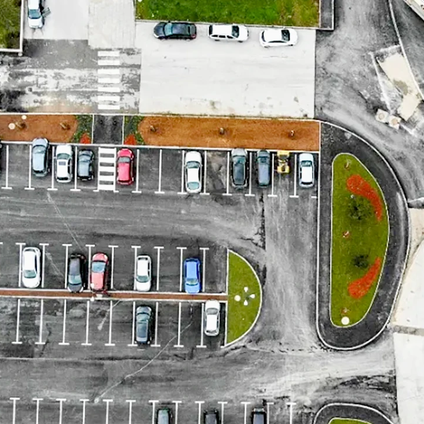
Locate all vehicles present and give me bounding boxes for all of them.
[183,150,203,194]
[75,148,94,183]
[133,304,153,346]
[88,252,110,293]
[29,137,50,178]
[258,27,298,48]
[64,252,85,294]
[18,245,42,288]
[182,256,201,295]
[206,22,249,43]
[156,407,174,424]
[24,0,51,31]
[53,144,74,184]
[229,148,249,191]
[250,407,266,424]
[132,254,152,293]
[254,149,272,189]
[153,20,197,42]
[115,148,136,187]
[297,152,316,189]
[202,299,222,338]
[277,151,290,172]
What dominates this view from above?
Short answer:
paved ground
